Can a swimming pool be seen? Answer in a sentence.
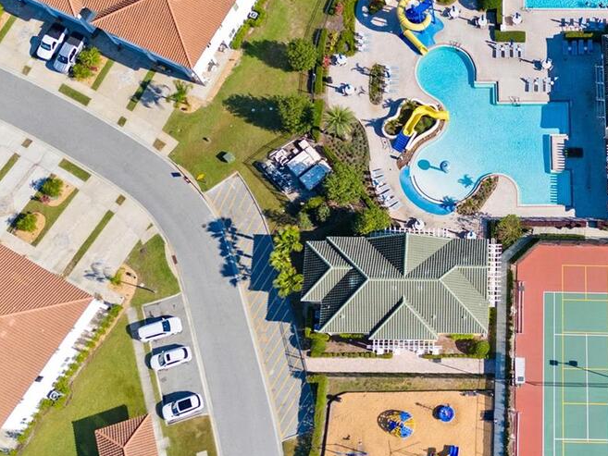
Yes, a swimming pool is visible in the scene.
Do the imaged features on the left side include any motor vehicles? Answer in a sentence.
Yes, the scene does show a motor vehicle on the left side.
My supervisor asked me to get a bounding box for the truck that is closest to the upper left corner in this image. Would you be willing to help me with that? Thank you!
[37,22,67,61]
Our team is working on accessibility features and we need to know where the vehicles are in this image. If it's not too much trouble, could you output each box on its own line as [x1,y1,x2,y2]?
[37,22,67,61]
[161,395,203,420]
[138,316,182,341]
[54,36,85,74]
[149,345,192,369]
